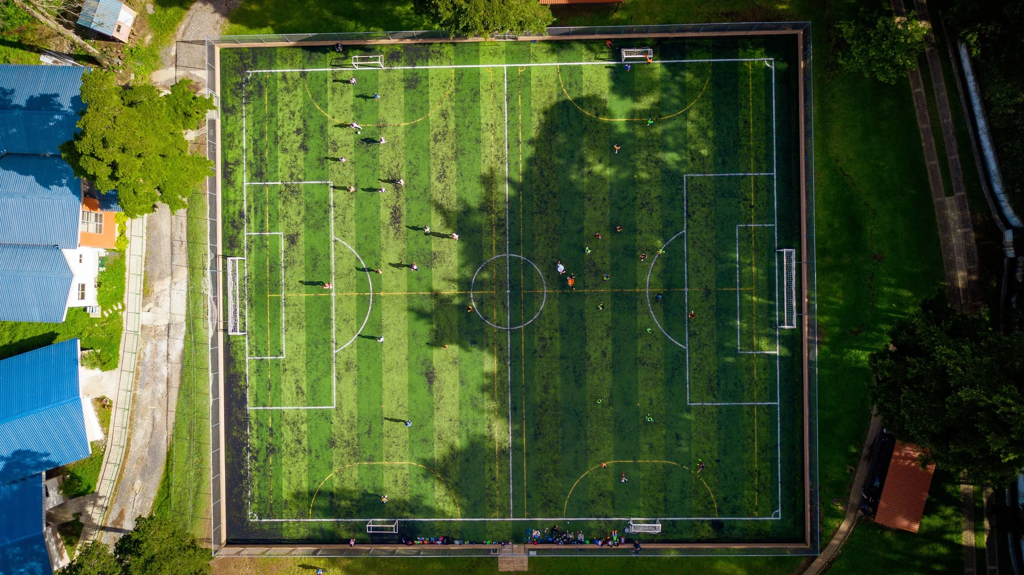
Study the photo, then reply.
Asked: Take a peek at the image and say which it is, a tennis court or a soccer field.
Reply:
soccer field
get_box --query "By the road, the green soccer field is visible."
[222,34,806,546]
